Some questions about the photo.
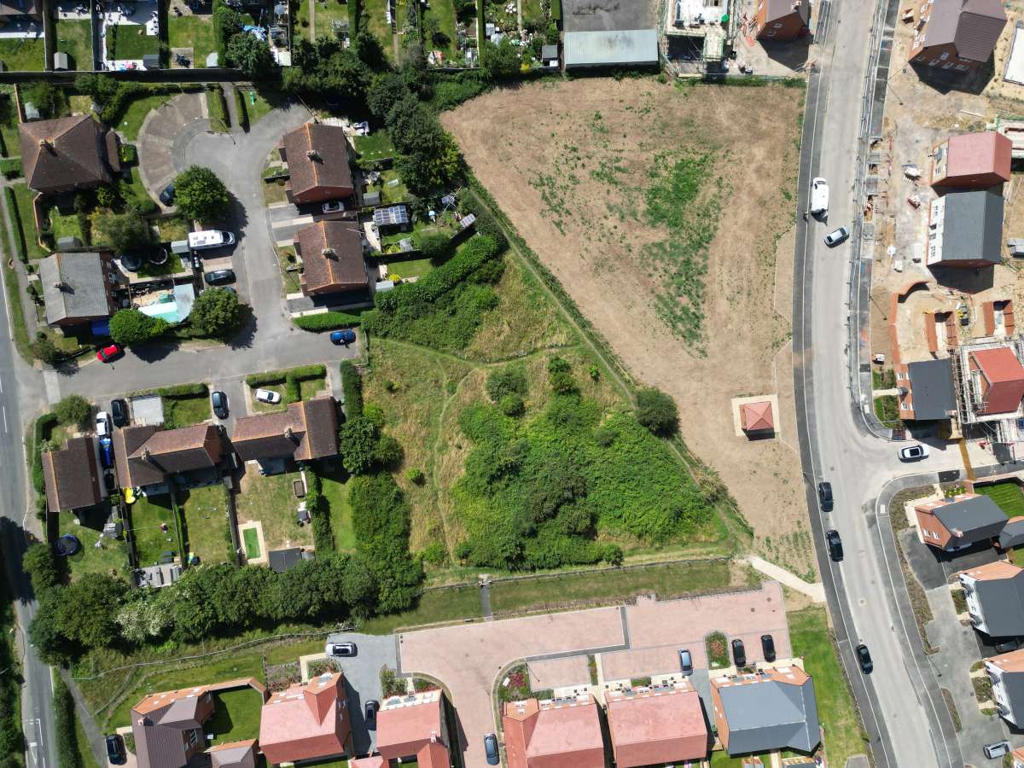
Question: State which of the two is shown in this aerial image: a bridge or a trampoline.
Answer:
trampoline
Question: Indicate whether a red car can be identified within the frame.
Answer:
Yes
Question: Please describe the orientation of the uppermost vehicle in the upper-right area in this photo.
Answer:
up and down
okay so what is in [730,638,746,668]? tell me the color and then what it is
black car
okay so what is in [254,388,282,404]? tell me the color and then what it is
white car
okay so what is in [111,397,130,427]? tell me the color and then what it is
black car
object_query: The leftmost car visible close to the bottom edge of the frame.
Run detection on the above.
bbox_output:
[107,732,126,764]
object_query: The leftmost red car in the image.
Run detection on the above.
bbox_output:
[96,344,124,362]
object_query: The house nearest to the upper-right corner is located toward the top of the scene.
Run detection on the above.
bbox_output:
[906,0,1009,77]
